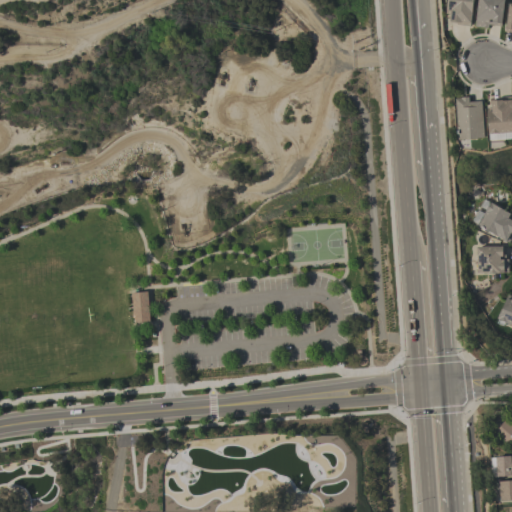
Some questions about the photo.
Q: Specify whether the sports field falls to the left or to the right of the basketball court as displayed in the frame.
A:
on its left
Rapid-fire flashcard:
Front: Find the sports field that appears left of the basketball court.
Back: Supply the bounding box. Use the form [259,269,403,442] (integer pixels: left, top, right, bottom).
[0,208,146,394]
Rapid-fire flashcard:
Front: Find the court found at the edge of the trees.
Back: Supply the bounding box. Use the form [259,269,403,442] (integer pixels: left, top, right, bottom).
[288,224,348,266]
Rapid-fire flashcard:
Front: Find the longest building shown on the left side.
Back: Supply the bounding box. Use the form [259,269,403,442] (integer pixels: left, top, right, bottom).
[132,292,150,324]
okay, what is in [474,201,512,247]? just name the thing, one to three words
house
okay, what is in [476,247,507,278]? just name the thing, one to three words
house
